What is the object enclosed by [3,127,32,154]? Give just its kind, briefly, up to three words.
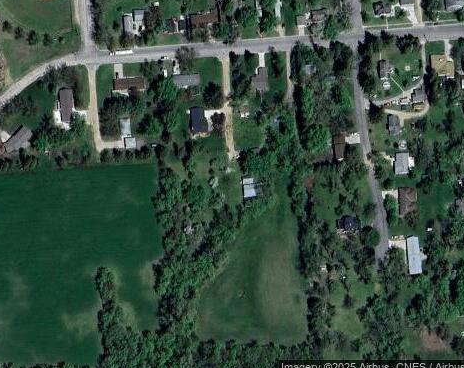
house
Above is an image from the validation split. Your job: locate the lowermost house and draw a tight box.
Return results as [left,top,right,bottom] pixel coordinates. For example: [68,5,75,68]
[404,236,422,276]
